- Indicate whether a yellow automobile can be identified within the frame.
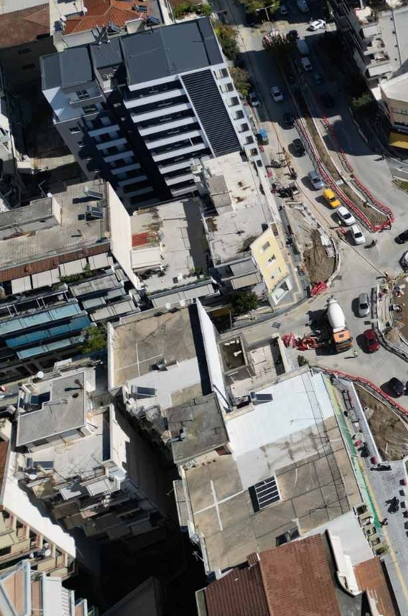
Yes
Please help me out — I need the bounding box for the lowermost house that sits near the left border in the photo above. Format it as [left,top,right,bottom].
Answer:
[0,563,105,616]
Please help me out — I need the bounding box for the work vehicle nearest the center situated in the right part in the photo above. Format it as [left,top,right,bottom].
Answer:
[298,333,321,349]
